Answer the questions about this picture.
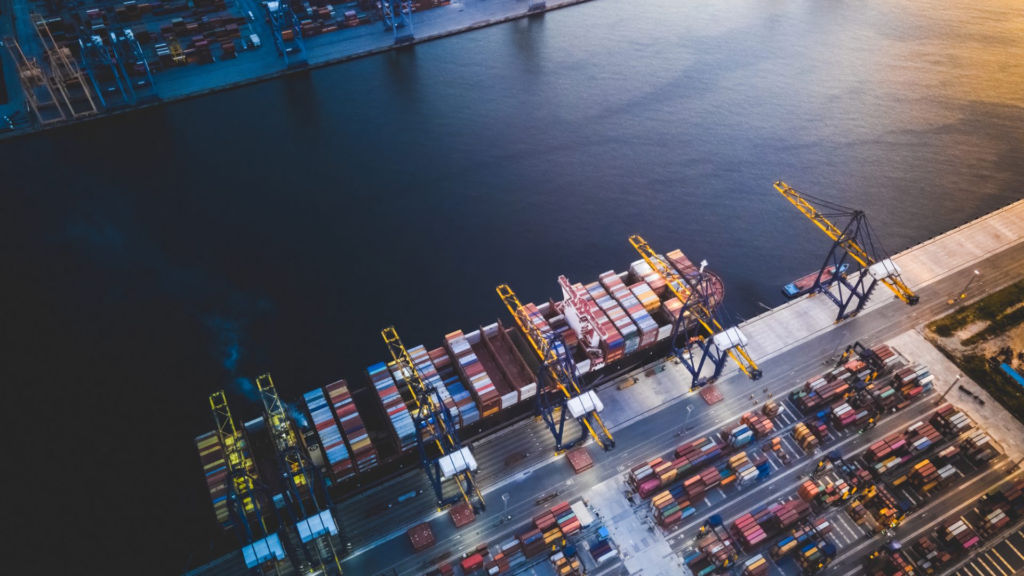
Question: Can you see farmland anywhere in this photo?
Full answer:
No, the picture contains no farmland.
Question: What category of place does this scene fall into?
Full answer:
The picture captures a port.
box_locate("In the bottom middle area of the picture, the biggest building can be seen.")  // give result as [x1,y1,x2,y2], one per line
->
[566,494,594,528]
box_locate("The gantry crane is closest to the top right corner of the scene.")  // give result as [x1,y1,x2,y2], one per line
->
[775,182,919,323]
